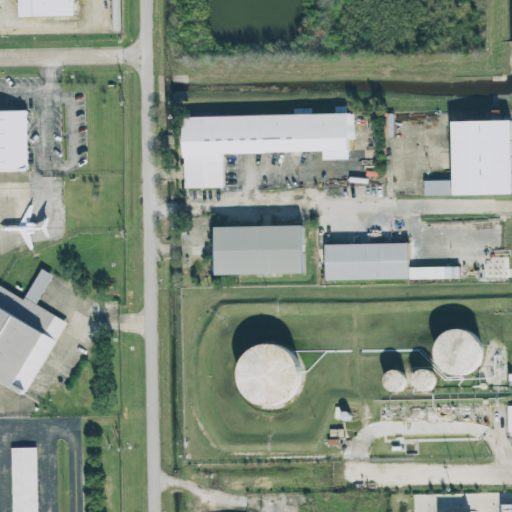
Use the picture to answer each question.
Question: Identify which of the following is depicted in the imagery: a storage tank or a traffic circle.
storage tank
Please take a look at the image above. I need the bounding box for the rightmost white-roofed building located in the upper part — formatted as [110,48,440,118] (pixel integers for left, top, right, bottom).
[450,120,512,196]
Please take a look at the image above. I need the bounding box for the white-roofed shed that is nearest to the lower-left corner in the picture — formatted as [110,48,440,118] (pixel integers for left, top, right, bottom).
[12,447,40,512]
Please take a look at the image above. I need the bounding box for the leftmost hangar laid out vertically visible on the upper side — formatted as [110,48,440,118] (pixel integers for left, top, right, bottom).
[0,110,30,172]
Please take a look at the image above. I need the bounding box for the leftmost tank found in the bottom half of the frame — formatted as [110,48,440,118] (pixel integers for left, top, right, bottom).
[235,344,301,406]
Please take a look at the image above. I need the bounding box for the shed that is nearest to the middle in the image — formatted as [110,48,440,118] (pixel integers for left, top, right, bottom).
[212,225,306,276]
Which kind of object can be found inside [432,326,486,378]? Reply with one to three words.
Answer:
storage tank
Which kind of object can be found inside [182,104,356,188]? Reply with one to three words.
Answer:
building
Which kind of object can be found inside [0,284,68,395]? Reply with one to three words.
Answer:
hangar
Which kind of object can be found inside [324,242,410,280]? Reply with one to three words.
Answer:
shed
